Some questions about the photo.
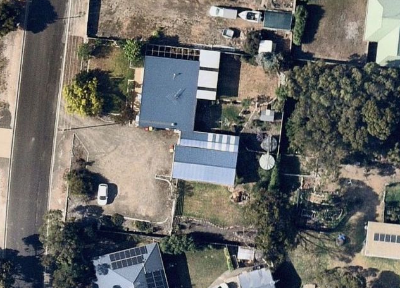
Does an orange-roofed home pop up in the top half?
No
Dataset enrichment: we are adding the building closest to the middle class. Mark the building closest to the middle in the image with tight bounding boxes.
[171,132,239,187]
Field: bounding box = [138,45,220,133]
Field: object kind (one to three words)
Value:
house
